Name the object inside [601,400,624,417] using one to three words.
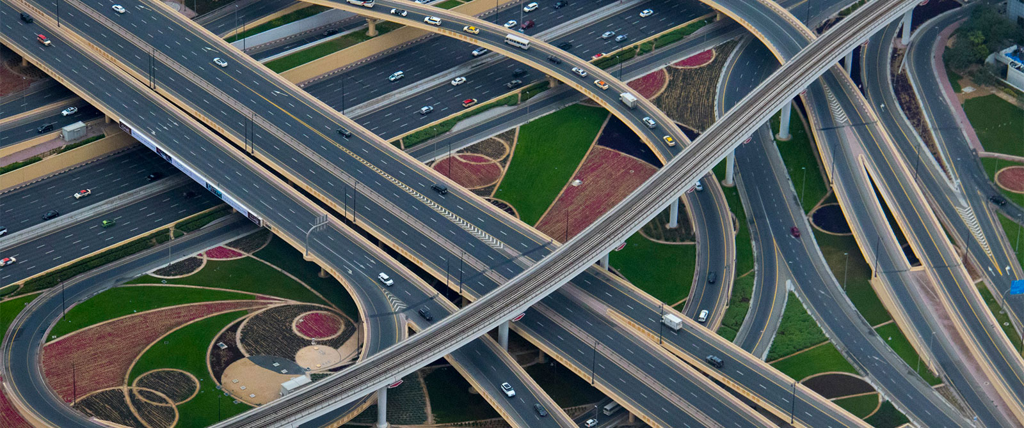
vehicle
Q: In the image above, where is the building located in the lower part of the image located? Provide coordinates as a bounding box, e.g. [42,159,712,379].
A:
[280,375,311,398]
